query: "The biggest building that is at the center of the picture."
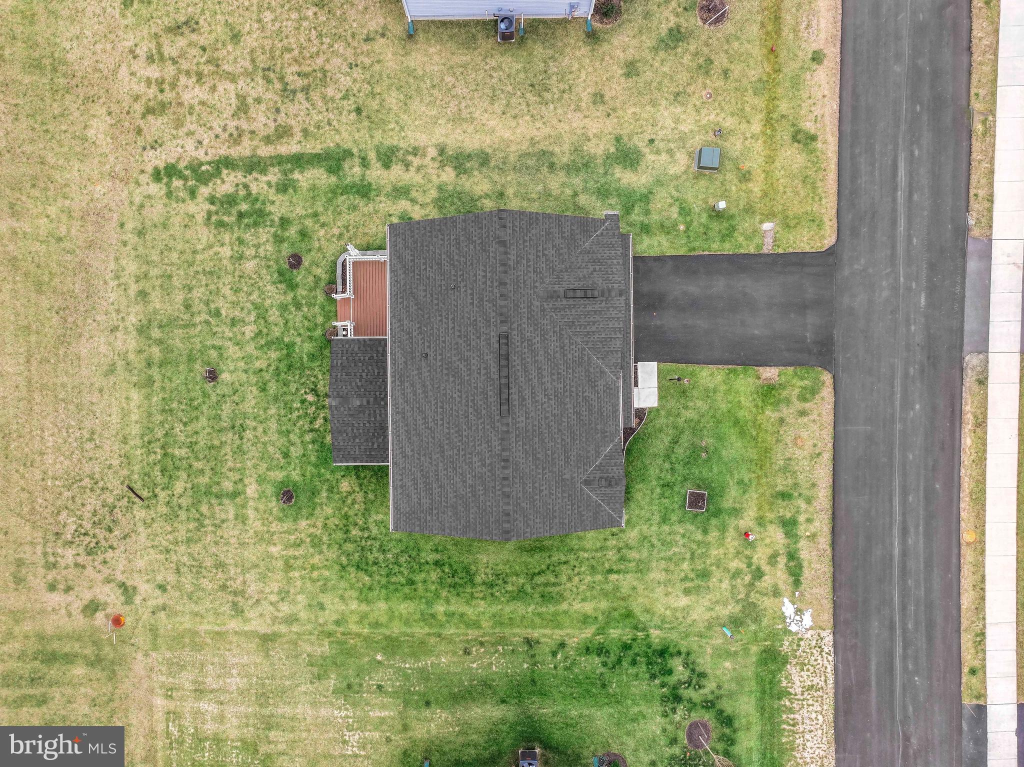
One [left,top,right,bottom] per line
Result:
[329,207,634,543]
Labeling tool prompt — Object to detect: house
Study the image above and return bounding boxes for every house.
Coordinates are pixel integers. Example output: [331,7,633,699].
[401,0,596,27]
[329,207,634,543]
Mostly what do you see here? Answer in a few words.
grass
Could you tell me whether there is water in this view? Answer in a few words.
No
